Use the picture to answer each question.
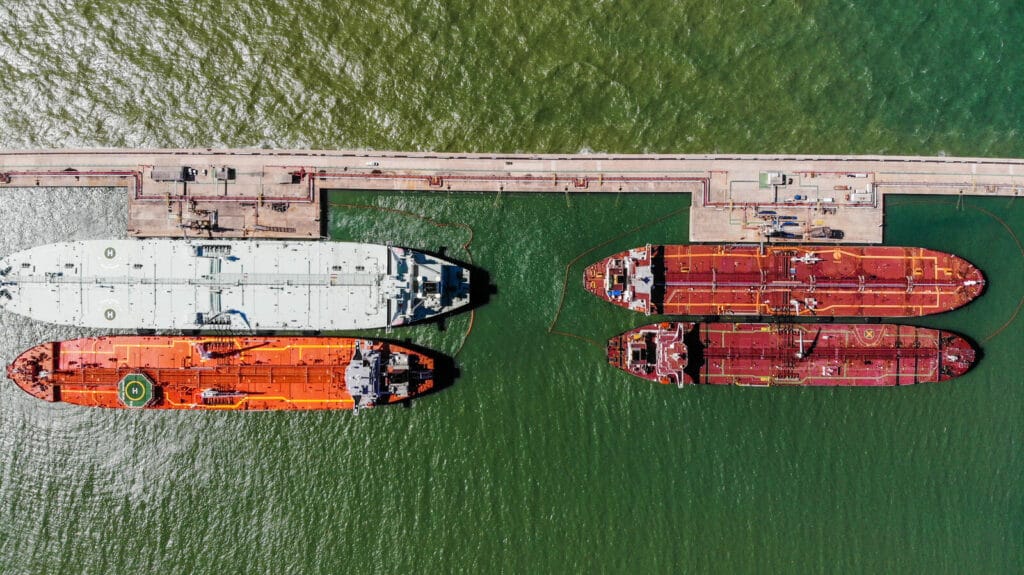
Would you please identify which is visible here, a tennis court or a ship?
ship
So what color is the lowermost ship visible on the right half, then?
red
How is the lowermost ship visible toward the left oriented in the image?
horizontally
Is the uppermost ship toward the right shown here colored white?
No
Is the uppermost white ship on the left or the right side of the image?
left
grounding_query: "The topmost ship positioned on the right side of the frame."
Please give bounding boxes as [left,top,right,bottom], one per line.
[584,244,986,317]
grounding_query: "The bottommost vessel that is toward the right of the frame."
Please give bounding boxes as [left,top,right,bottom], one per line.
[608,321,976,388]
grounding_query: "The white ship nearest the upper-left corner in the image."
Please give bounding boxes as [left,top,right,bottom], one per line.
[0,239,469,332]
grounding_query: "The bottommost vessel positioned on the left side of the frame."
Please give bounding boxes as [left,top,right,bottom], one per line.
[6,335,435,415]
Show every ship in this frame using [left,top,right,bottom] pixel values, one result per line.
[608,321,976,388]
[0,239,469,332]
[584,244,986,317]
[6,335,435,415]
